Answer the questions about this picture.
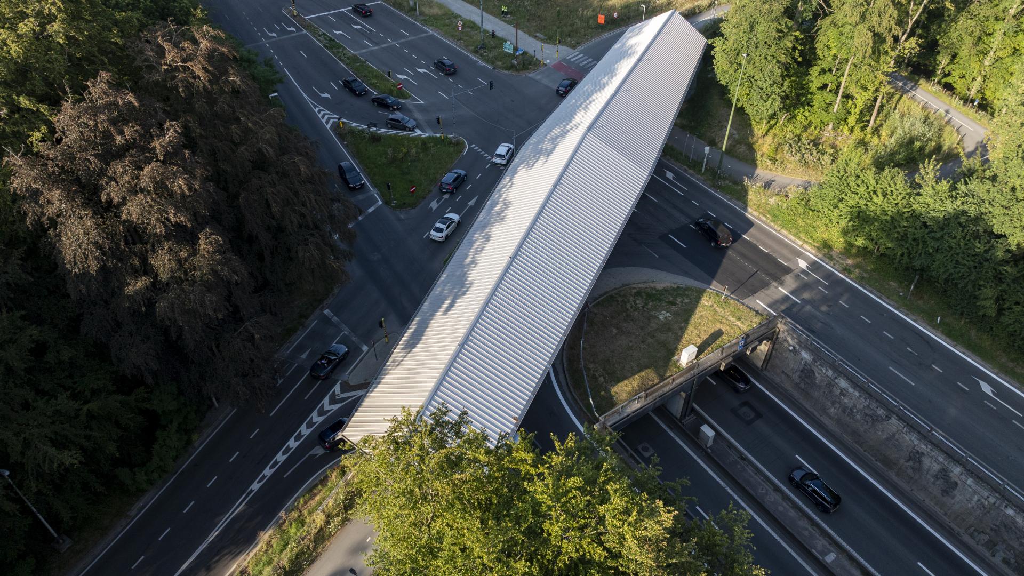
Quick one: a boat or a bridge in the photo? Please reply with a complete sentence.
The one in the frame is a bridge.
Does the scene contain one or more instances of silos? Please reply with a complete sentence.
No, there is no silo in the image.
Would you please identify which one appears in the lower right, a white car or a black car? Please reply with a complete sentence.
What appears in the lower right is a black car.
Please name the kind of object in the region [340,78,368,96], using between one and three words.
car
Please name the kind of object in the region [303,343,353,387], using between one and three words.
car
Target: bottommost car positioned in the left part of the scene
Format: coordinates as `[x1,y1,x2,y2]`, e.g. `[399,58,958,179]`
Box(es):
[303,408,353,464]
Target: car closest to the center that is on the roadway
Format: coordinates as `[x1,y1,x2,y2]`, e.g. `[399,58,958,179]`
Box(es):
[426,215,463,245]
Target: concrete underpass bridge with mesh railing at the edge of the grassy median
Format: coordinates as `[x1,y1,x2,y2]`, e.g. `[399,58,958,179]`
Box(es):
[592,312,793,432]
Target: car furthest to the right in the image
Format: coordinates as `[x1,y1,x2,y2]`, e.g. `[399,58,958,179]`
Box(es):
[783,464,847,519]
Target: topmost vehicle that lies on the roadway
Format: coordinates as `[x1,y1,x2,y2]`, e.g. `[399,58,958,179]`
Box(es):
[351,5,373,18]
